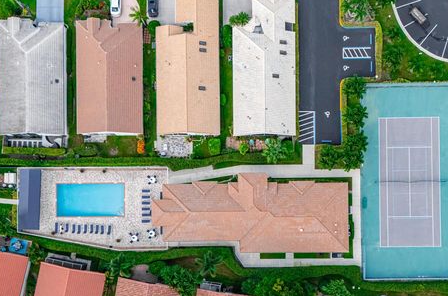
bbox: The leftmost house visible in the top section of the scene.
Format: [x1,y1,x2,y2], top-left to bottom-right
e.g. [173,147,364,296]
[0,16,70,135]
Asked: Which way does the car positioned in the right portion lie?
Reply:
diagonally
